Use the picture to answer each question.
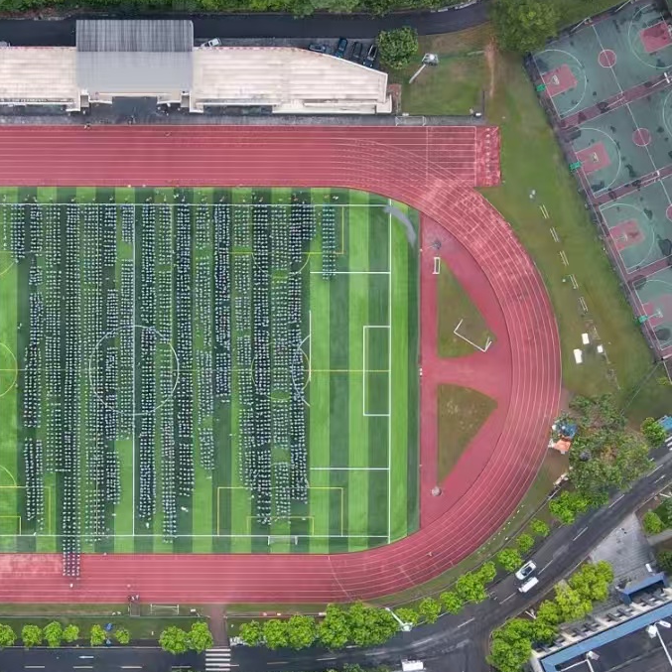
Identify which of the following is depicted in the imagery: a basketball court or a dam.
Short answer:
basketball court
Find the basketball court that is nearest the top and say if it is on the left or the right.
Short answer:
right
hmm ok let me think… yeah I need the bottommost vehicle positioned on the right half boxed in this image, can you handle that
[398,656,424,670]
